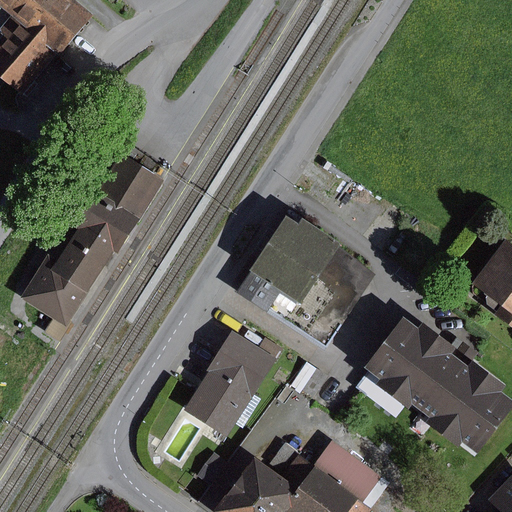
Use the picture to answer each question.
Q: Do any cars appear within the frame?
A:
Yes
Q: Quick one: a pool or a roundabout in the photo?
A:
pool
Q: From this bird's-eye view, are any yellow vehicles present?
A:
Yes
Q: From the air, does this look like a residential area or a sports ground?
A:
residential area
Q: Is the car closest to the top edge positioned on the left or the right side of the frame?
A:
left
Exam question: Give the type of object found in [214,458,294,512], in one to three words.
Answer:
house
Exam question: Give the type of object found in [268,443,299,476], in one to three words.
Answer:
shed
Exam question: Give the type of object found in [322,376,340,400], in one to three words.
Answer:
car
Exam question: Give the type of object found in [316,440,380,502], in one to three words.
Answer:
barn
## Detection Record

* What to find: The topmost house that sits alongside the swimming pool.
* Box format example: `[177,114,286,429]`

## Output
[184,331,278,437]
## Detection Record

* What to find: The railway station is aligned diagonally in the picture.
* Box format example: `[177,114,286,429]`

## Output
[0,0,333,488]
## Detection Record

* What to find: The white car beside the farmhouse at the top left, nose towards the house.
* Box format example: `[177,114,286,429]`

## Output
[73,34,97,55]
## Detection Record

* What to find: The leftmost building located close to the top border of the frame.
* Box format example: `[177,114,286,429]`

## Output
[0,0,92,95]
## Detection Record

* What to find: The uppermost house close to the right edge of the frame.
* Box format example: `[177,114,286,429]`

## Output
[474,240,512,326]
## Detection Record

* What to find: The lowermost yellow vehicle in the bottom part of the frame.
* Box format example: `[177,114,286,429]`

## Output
[213,308,244,334]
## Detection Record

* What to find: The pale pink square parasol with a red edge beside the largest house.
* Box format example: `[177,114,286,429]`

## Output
[411,416,432,436]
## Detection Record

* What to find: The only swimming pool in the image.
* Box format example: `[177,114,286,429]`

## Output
[155,410,223,469]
